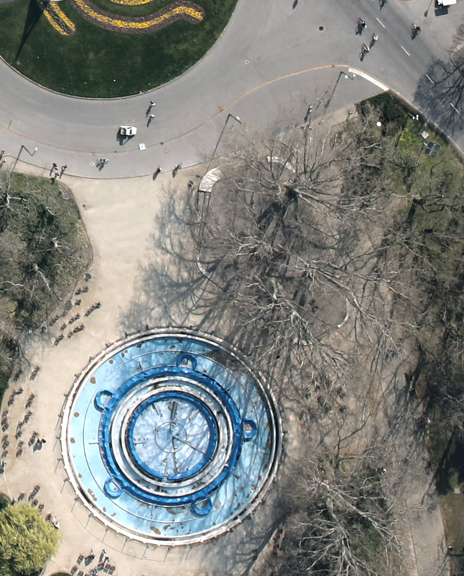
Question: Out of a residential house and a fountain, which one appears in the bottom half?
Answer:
fountain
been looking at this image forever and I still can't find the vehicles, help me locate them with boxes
[438,0,456,5]
[117,125,135,136]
